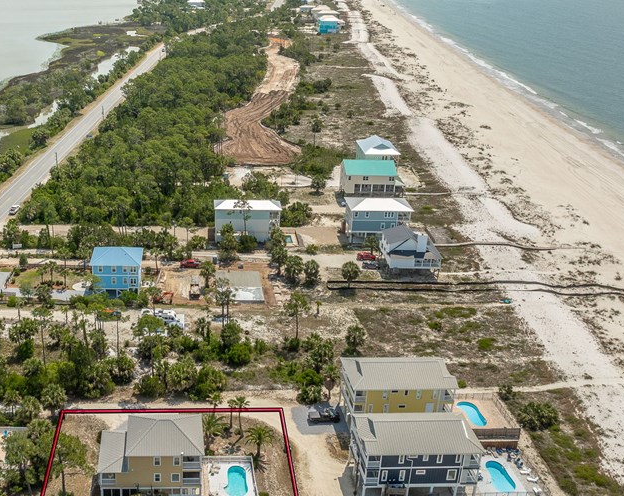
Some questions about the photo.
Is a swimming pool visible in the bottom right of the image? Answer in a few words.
Yes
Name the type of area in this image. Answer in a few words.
residential area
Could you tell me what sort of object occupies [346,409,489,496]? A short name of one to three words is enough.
house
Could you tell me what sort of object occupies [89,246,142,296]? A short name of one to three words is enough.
house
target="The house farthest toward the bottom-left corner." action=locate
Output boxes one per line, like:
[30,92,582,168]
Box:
[97,413,206,496]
